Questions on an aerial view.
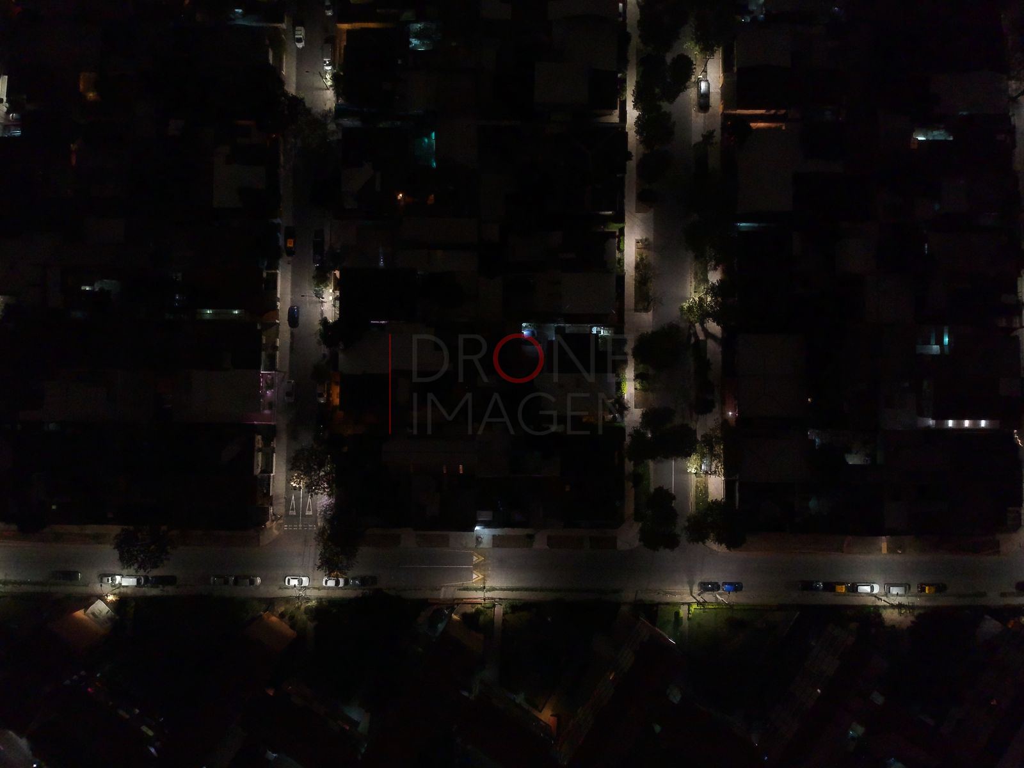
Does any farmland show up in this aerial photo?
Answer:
No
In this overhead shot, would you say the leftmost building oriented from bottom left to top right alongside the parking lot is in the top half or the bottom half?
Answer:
bottom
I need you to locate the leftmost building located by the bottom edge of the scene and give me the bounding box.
[0,605,112,743]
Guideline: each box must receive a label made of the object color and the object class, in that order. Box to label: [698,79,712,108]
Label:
black car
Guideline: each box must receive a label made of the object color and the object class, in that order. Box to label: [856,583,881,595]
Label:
white vehicle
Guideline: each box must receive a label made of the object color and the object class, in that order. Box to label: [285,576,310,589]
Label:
white vehicle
